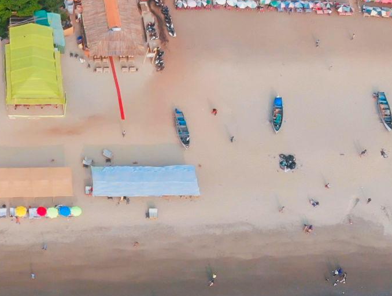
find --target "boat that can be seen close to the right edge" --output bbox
[377,91,392,133]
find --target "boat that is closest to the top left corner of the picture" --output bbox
[175,108,188,150]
